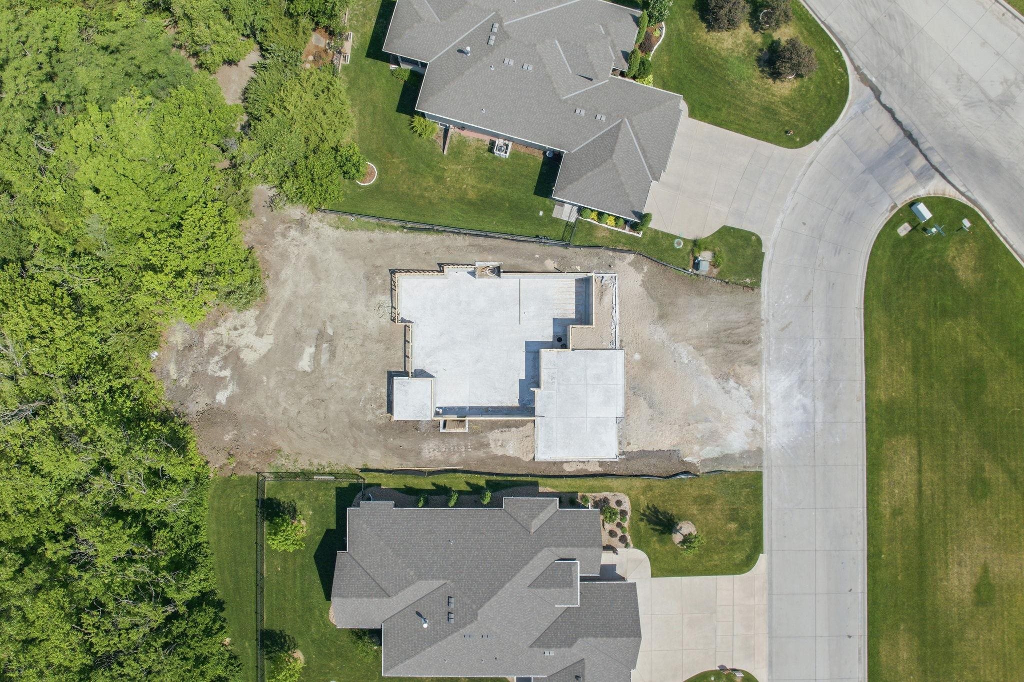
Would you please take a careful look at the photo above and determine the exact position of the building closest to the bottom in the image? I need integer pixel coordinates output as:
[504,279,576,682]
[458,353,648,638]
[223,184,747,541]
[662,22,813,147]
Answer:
[332,495,642,682]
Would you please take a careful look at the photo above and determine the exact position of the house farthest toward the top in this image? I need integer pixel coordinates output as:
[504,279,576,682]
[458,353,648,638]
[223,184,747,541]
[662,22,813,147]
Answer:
[382,0,684,222]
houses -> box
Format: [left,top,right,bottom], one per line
[382,0,684,222]
[332,495,642,682]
